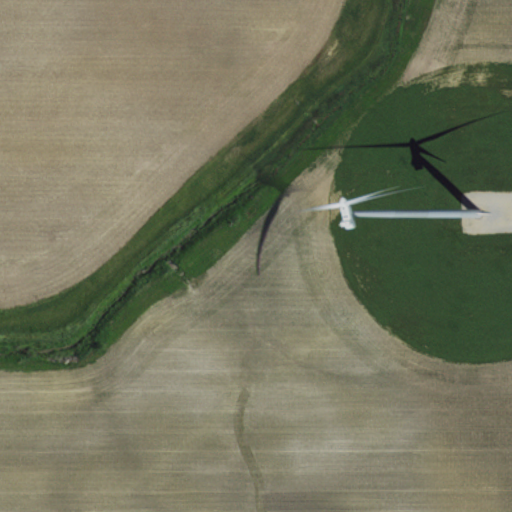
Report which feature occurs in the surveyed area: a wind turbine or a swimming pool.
wind turbine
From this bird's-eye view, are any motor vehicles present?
No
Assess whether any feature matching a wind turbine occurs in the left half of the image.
No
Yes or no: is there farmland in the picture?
Yes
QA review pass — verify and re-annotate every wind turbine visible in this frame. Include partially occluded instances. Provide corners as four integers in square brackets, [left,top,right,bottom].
[202,184,488,230]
